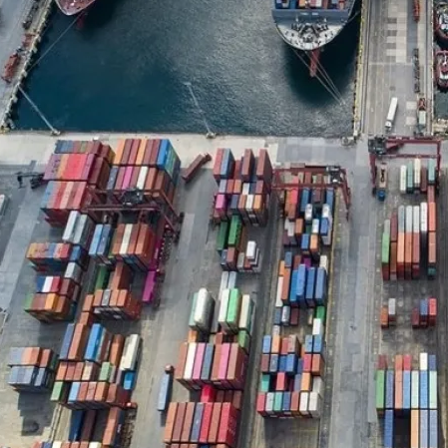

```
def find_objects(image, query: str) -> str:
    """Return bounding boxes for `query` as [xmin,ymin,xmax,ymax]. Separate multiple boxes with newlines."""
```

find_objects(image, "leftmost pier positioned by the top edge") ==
[0,0,48,137]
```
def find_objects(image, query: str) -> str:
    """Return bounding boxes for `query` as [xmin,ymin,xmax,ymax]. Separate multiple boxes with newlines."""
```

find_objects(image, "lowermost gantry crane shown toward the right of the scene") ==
[268,164,351,215]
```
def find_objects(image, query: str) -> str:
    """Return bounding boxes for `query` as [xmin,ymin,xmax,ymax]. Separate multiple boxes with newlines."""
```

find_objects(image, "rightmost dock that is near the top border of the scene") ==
[350,0,437,138]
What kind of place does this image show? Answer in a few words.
port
